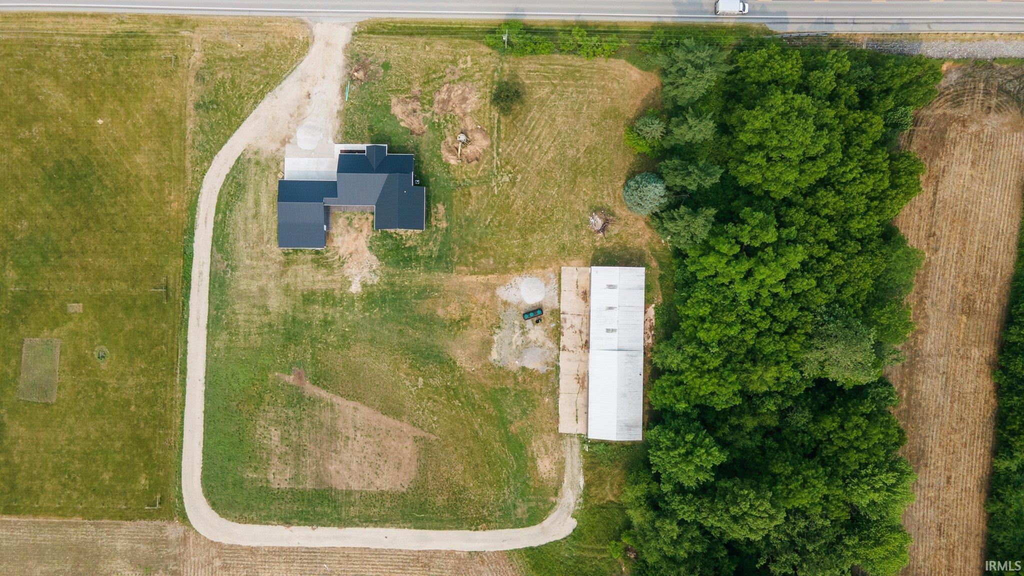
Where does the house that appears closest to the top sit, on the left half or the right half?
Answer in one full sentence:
The house that appears closest to the top sits on the left side.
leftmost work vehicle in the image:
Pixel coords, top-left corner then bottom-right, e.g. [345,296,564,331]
[455,132,474,164]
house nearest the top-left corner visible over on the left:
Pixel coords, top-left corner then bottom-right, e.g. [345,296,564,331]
[277,144,426,248]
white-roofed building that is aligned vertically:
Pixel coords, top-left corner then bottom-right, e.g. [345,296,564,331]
[586,266,645,441]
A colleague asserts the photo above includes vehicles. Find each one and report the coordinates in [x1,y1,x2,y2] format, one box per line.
[455,132,474,164]
[715,0,748,15]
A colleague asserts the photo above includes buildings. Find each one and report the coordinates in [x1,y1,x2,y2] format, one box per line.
[277,144,426,248]
[586,266,645,441]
